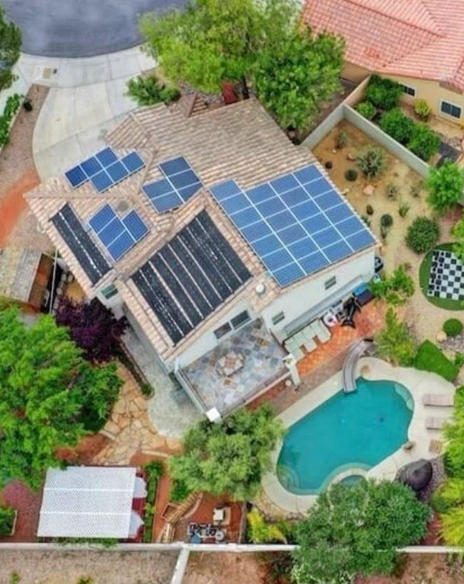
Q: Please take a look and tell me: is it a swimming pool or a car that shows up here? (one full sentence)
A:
I can see a swimming pool in this picture.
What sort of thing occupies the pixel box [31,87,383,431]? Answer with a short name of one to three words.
house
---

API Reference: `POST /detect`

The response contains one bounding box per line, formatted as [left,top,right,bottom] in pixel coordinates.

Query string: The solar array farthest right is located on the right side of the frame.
[211,169,373,290]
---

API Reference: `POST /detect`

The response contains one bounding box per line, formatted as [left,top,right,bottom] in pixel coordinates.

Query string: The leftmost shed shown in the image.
[0,252,53,311]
